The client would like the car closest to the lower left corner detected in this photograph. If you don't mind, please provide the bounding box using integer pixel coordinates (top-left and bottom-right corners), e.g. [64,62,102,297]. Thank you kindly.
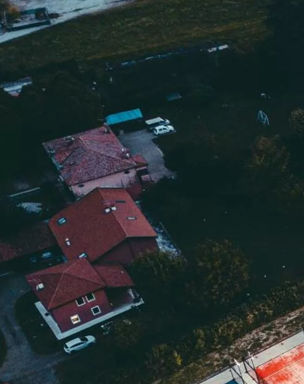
[61,335,96,354]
